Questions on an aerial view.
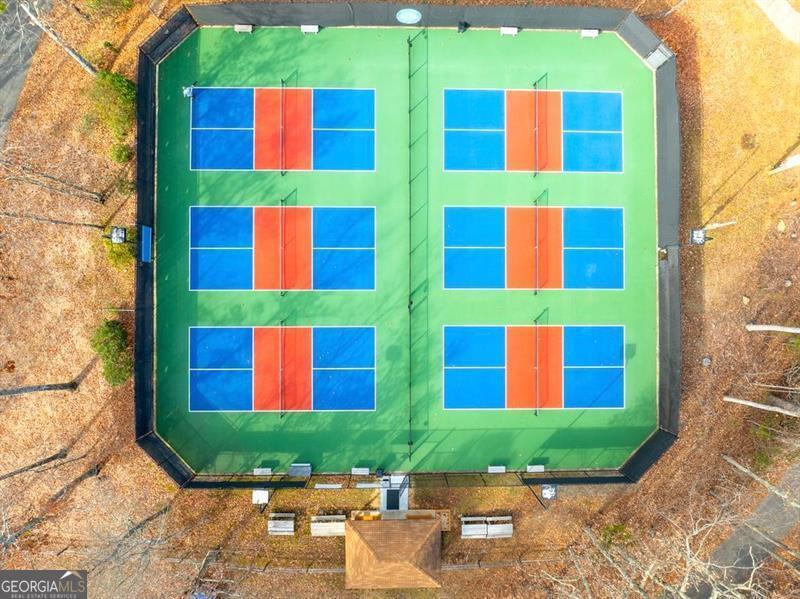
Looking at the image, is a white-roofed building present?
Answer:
No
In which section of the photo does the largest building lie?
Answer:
bottom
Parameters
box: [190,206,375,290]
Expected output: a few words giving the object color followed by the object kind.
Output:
blue sports court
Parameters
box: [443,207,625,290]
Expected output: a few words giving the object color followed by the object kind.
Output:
blue sports court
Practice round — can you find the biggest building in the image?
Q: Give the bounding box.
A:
[345,507,452,589]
